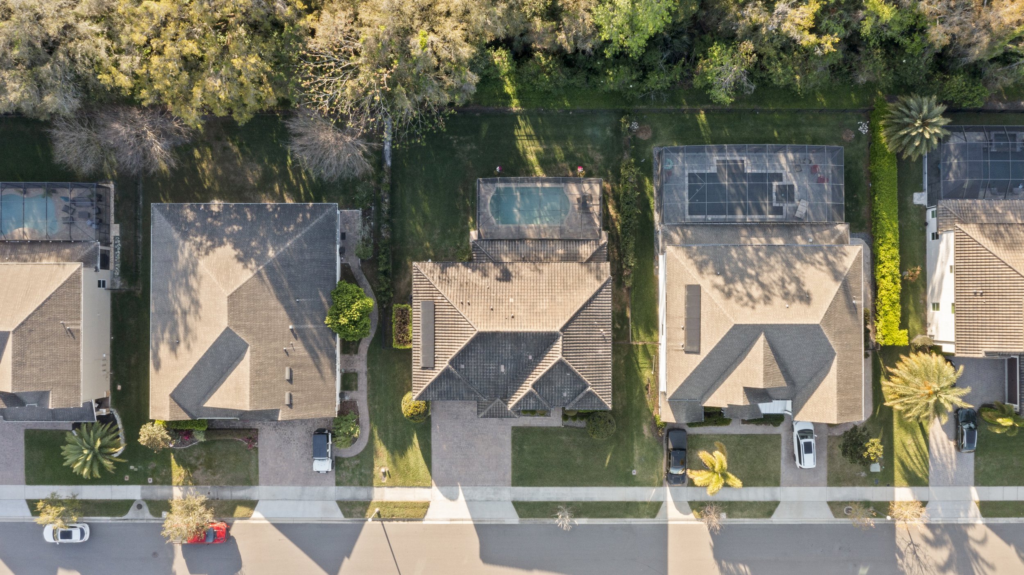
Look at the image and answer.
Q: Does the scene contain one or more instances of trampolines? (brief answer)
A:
No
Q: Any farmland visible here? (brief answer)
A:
No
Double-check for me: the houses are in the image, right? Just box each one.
[924,199,1024,413]
[659,222,865,423]
[0,240,110,423]
[149,202,342,421]
[411,239,613,418]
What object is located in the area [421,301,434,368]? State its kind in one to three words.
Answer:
solar panel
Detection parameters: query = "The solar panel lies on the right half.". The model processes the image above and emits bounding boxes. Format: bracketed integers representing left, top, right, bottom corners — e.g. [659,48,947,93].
[684,285,700,353]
